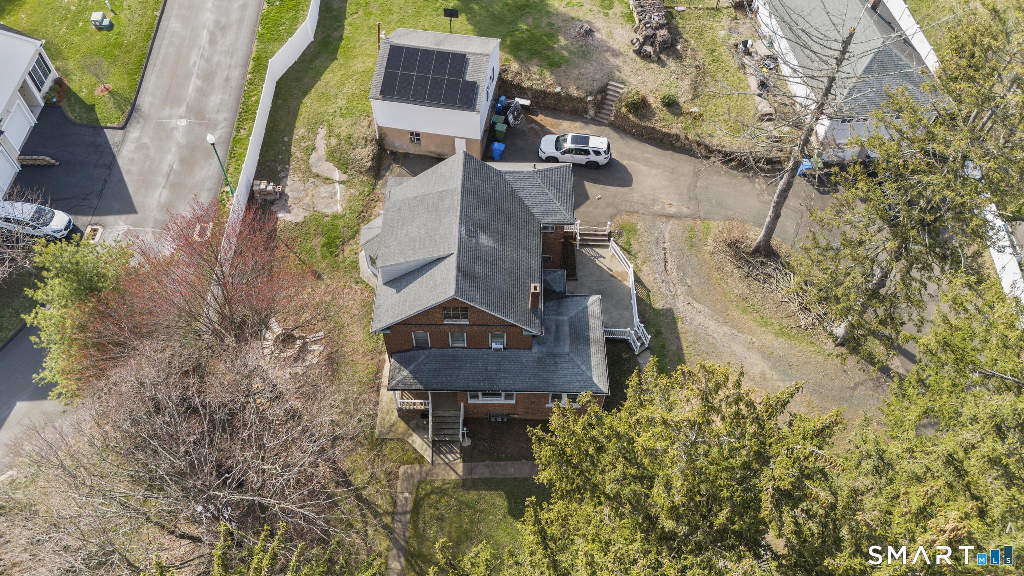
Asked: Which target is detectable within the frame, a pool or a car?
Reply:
car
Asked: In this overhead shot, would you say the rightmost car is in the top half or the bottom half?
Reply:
top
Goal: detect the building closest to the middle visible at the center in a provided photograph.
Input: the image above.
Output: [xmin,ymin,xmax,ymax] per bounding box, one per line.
[359,151,610,420]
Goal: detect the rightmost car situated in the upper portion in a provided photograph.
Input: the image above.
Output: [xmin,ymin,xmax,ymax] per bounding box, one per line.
[536,132,615,173]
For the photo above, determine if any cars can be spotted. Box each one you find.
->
[536,132,615,173]
[0,200,75,244]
